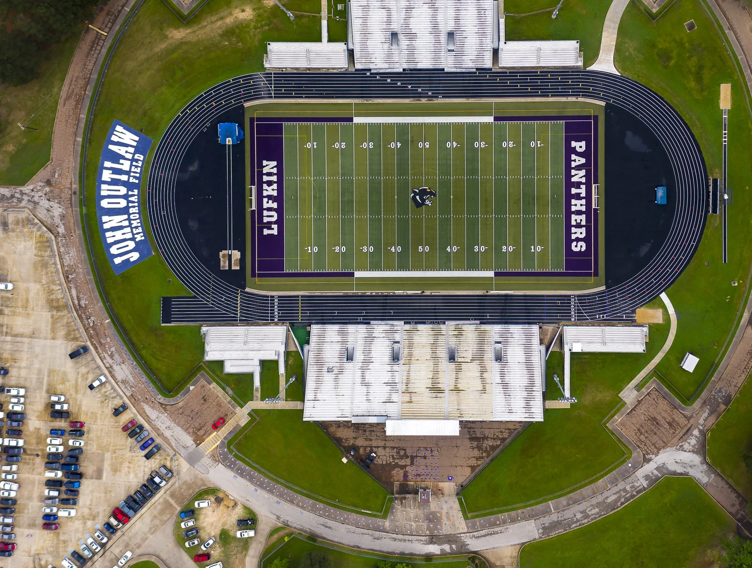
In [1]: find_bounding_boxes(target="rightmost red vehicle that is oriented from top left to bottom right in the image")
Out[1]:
[112,507,129,523]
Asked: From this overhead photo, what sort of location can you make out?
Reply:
sports ground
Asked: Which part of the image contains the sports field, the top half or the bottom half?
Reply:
top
